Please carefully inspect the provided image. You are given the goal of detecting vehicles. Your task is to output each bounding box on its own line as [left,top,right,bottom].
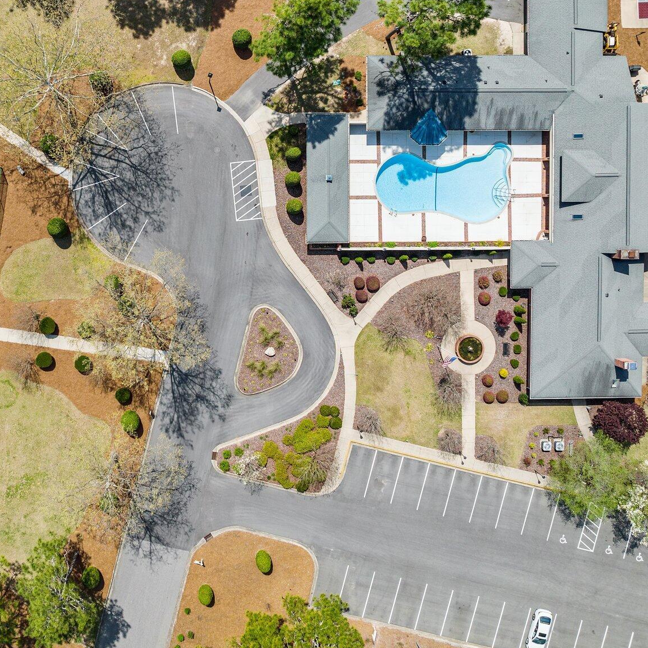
[601,20,620,55]
[526,608,550,648]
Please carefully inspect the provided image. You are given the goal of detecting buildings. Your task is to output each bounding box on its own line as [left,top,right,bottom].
[365,0,648,399]
[305,113,349,244]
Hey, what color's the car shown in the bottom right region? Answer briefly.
white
